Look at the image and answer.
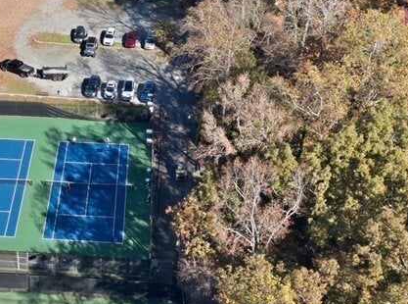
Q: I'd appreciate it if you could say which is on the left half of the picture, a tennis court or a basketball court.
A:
tennis court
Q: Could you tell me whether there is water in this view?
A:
No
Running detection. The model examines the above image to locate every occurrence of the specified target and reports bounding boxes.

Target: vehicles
[121,80,135,100]
[85,38,99,56]
[144,36,156,49]
[74,26,87,42]
[104,83,118,99]
[125,31,138,48]
[104,29,118,45]
[142,83,156,102]
[0,61,32,78]
[84,77,100,98]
